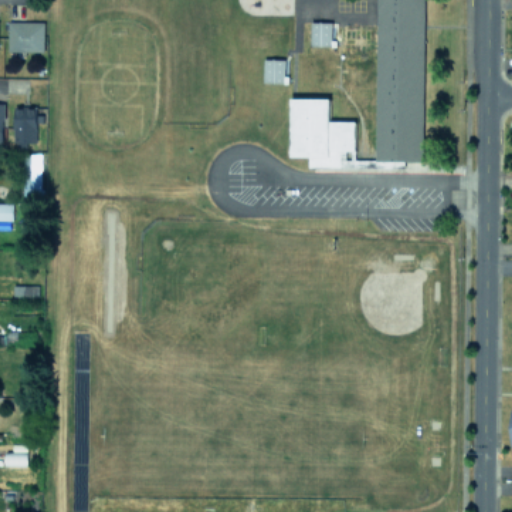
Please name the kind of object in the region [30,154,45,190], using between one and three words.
shed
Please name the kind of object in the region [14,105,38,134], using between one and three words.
house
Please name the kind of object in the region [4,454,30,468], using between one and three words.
house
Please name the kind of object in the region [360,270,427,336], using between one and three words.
baseball field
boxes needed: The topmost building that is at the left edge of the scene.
[9,22,46,53]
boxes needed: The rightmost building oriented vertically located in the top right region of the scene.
[378,0,426,162]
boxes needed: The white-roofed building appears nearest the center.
[290,100,358,169]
